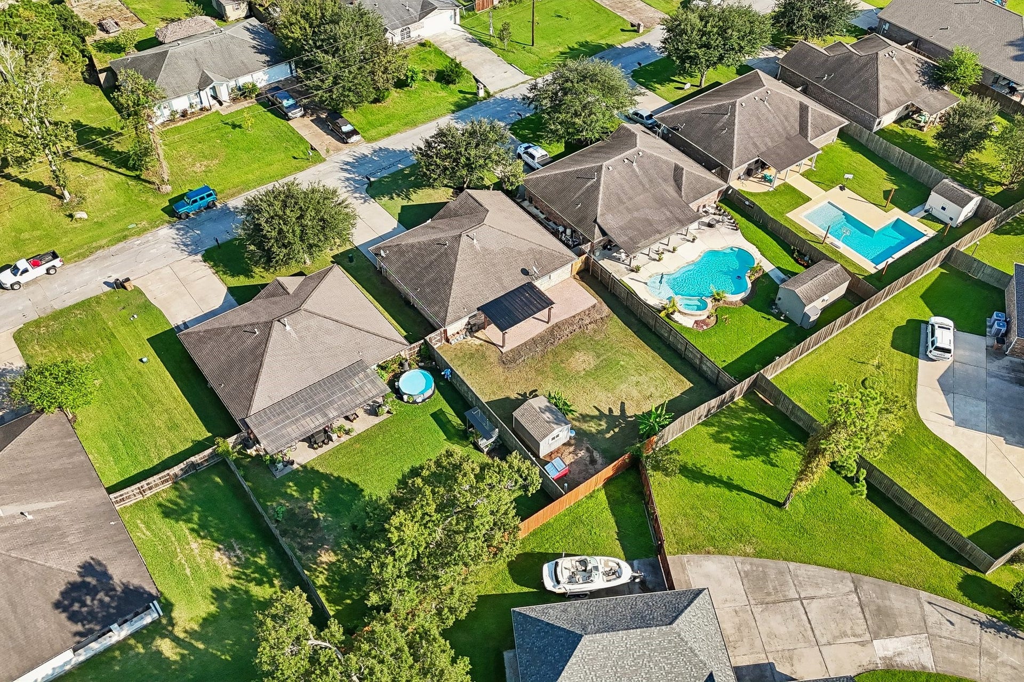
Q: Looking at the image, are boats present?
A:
Yes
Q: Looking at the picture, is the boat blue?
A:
No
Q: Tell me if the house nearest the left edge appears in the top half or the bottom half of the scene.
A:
bottom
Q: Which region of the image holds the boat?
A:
bottom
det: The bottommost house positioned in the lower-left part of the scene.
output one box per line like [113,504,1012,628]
[0,398,168,682]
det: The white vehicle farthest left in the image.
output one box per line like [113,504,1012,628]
[0,247,64,288]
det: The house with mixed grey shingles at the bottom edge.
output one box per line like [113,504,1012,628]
[511,587,735,682]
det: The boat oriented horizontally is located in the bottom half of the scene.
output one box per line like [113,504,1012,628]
[543,551,633,588]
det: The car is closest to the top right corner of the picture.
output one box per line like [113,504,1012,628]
[925,312,955,357]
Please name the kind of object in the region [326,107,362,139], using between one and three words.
truck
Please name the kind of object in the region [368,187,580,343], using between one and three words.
house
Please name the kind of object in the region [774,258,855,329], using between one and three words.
shed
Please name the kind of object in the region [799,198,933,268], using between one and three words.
swimming pool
